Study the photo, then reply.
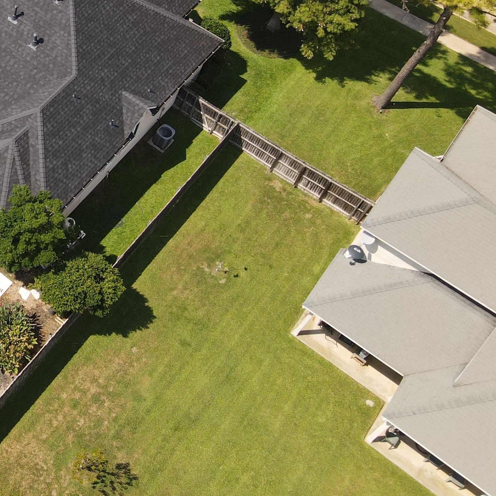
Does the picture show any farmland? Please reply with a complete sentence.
No, there's no farmland in this view.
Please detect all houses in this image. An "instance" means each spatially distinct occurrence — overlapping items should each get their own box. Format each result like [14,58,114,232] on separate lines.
[295,105,496,496]
[0,0,224,234]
